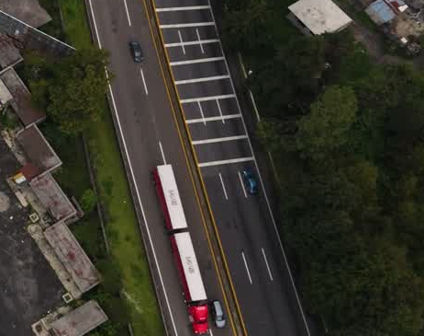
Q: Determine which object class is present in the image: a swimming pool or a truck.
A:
truck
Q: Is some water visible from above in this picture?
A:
No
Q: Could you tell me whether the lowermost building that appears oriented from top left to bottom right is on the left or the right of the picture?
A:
left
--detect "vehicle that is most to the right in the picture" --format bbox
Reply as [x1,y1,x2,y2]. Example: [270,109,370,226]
[241,170,259,196]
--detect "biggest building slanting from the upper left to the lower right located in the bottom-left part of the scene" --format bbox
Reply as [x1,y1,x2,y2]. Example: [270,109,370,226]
[43,222,101,293]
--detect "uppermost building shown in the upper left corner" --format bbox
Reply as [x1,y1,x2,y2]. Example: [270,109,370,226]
[0,0,51,28]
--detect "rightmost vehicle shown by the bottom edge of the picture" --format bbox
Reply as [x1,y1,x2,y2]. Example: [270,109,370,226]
[209,300,226,328]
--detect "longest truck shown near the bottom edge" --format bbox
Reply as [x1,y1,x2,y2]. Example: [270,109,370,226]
[165,232,207,324]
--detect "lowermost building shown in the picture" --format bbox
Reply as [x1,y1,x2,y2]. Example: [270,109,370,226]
[49,300,108,336]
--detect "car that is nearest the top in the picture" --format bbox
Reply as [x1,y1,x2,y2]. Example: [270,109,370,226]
[128,40,142,64]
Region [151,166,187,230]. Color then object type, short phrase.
white trailer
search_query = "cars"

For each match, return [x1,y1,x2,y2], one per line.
[128,40,142,64]
[241,170,259,196]
[209,300,226,328]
